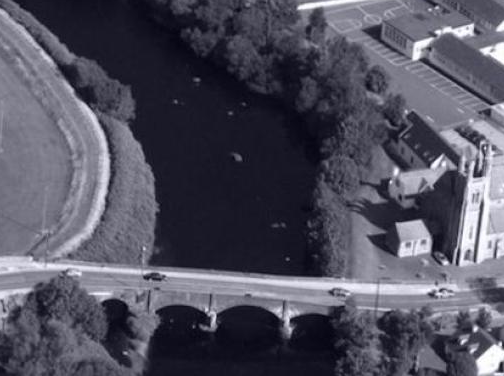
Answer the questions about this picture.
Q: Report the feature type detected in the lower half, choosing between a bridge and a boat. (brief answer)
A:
bridge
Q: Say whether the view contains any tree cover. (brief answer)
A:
Yes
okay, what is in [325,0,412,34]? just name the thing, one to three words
sports court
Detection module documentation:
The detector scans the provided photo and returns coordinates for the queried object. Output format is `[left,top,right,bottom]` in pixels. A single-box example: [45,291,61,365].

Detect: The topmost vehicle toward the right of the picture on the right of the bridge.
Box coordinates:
[430,249,450,265]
